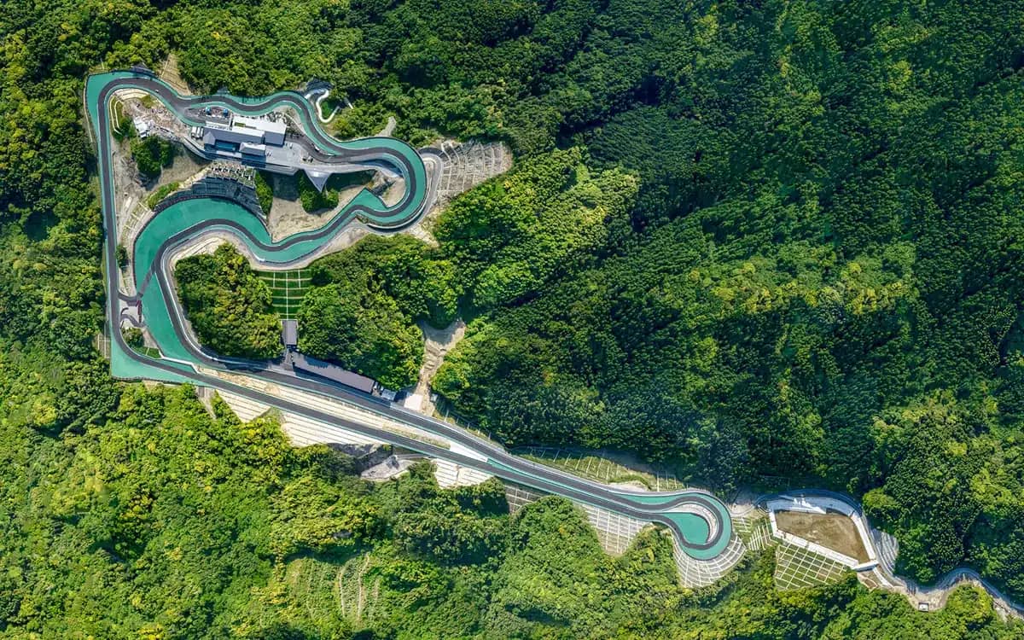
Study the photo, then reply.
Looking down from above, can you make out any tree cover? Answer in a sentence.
Yes, tree cover shows up in the scene.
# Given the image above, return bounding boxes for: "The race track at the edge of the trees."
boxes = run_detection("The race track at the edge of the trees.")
[98,76,725,551]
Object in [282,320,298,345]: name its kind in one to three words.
building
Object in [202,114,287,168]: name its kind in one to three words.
building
